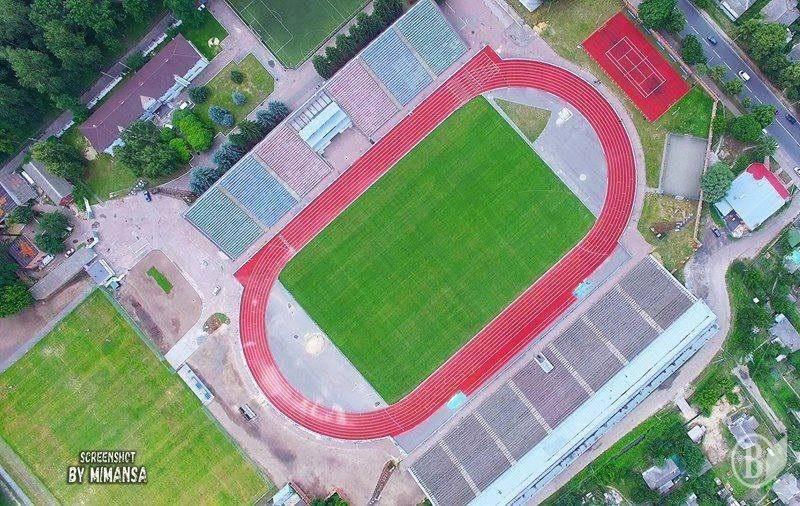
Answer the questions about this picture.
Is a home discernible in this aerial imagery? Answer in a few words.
Yes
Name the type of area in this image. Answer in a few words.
sports ground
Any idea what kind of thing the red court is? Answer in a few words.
tennis court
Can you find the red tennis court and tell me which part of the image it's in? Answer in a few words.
top right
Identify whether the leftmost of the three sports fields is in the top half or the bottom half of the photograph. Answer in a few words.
bottom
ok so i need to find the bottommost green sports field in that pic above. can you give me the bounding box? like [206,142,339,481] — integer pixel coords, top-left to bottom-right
[0,291,281,506]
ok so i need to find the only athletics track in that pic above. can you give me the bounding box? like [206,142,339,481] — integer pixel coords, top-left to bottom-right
[235,46,638,442]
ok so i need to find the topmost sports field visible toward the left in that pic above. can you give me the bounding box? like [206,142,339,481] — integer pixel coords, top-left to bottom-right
[227,0,372,69]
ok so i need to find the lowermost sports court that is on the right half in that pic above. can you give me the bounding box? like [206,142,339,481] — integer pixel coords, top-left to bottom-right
[659,132,709,201]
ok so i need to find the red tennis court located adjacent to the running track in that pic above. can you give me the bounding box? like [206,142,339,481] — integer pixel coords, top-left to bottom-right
[580,10,691,123]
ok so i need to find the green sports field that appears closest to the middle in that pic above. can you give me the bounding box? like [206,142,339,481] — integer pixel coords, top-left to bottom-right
[278,94,598,406]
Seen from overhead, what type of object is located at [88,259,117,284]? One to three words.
building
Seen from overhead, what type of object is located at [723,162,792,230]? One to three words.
house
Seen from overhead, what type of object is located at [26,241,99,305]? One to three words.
shed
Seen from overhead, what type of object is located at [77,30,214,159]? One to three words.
building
